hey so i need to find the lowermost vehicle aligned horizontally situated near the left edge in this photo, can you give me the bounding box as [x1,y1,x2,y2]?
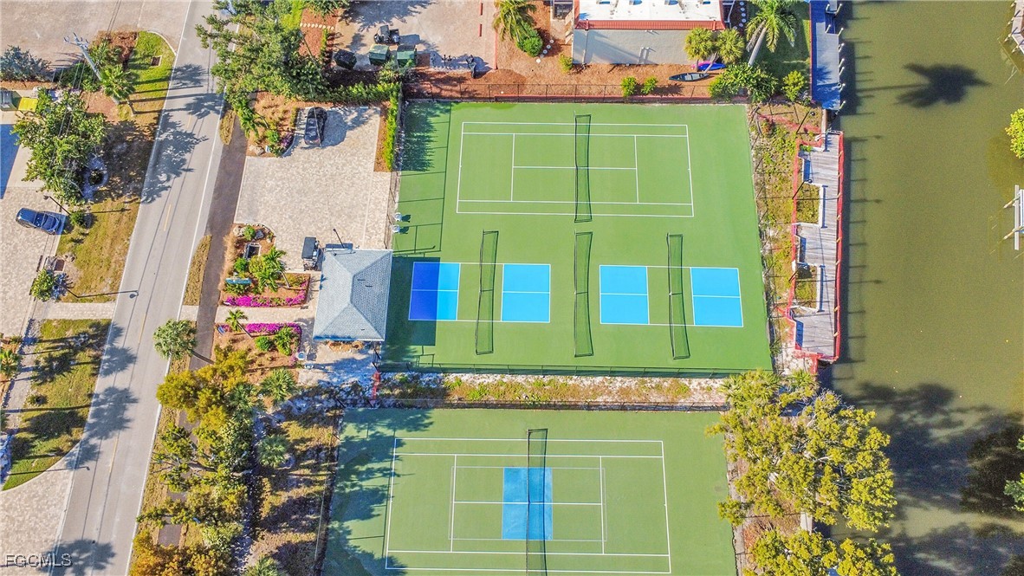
[11,210,61,235]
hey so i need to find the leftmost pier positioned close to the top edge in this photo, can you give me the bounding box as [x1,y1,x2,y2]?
[809,0,846,118]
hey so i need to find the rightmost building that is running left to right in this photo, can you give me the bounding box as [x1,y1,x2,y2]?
[565,0,727,65]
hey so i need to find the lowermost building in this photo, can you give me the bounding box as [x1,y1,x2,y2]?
[314,250,394,346]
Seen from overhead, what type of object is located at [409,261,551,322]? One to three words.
sports court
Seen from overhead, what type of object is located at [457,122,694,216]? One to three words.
tennis court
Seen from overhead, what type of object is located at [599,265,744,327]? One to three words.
sports court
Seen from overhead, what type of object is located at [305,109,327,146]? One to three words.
car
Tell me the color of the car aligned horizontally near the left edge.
blue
